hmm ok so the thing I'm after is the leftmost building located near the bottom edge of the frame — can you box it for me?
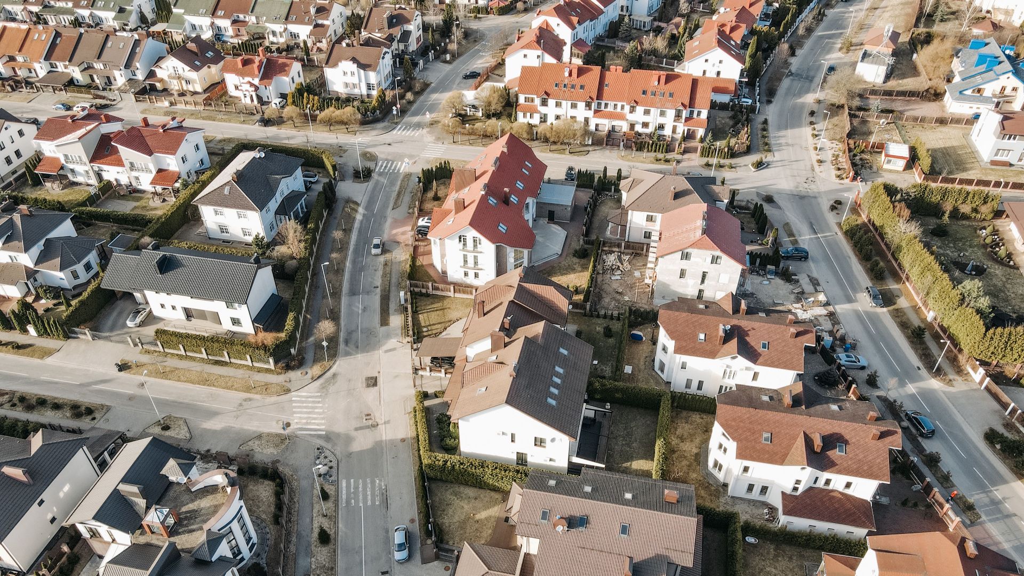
[0,405,104,571]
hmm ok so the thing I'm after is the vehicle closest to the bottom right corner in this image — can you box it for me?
[905,405,942,437]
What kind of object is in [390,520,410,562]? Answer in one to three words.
car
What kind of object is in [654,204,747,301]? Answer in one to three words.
house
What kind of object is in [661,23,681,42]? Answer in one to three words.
gazebo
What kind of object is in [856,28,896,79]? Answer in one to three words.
building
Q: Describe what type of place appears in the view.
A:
residential area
